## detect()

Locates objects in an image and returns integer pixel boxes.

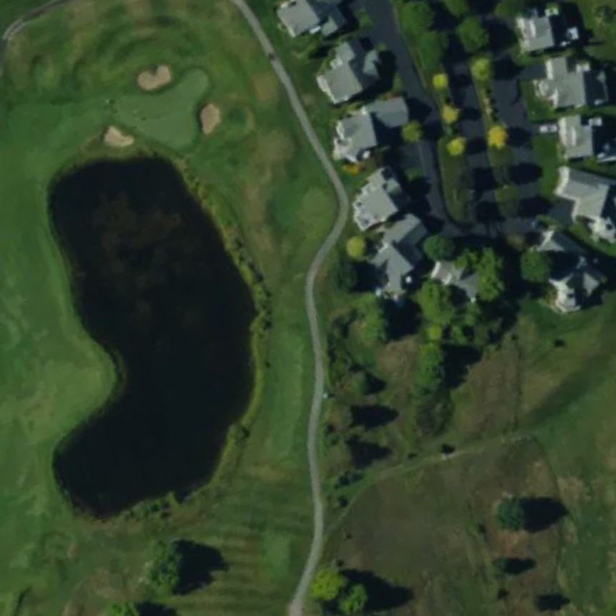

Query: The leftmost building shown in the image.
[277,0,352,51]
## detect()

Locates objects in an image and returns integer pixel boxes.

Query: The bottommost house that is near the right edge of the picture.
[539,228,607,315]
